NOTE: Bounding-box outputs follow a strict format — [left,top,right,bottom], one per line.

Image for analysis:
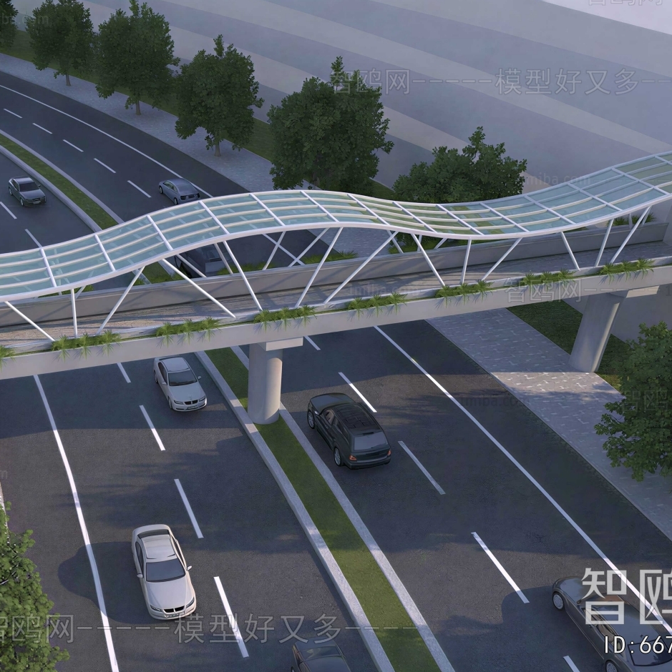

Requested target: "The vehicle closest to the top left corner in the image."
[9,174,48,206]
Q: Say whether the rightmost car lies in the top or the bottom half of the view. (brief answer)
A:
bottom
